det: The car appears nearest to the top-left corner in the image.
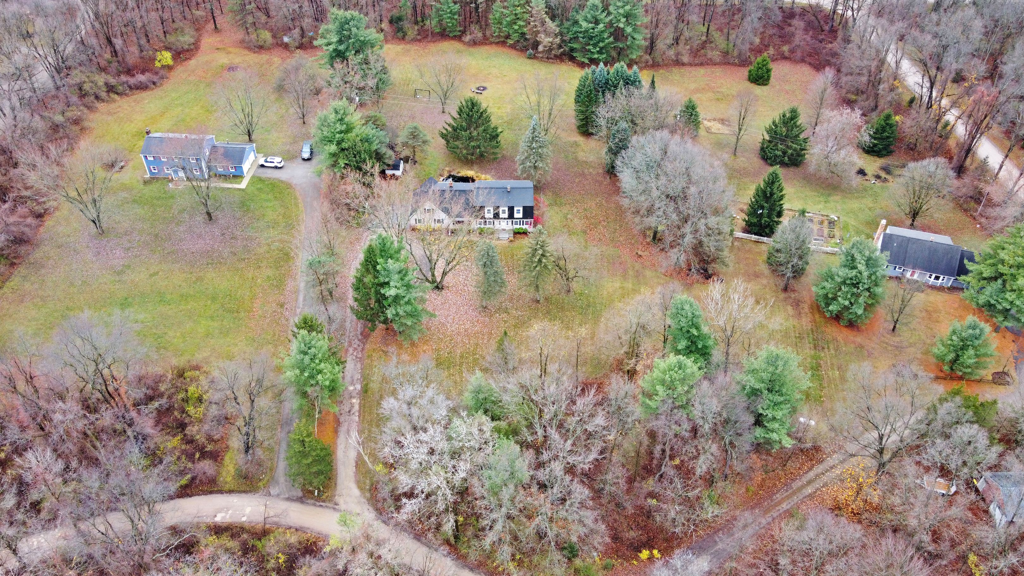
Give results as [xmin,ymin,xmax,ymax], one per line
[257,156,284,169]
